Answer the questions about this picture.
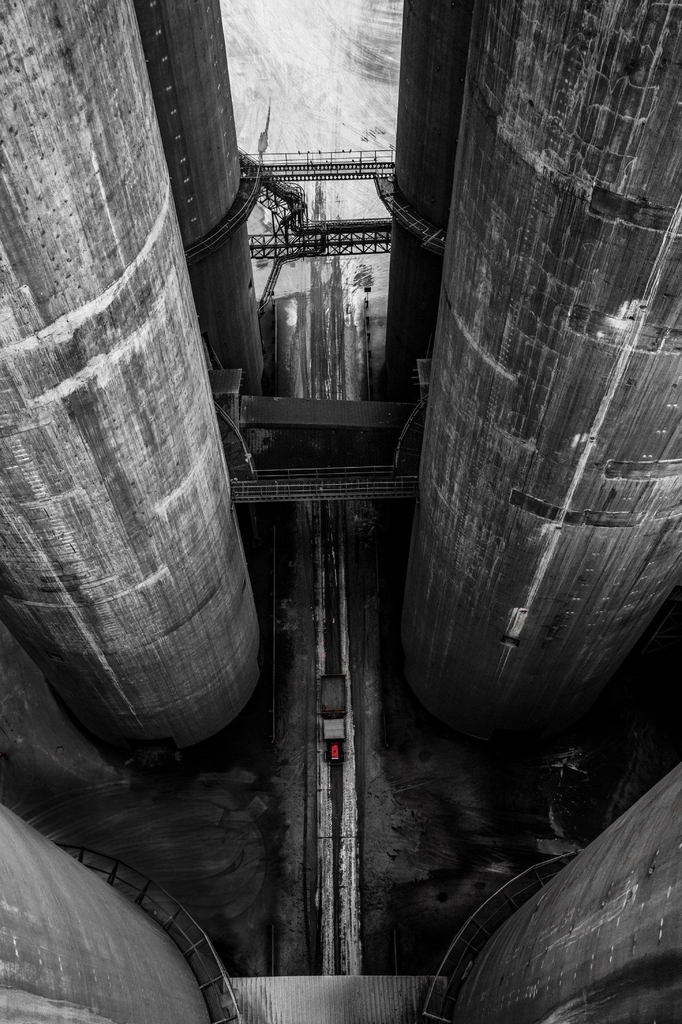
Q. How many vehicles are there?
1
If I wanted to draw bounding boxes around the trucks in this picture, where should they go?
[320,675,350,767]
